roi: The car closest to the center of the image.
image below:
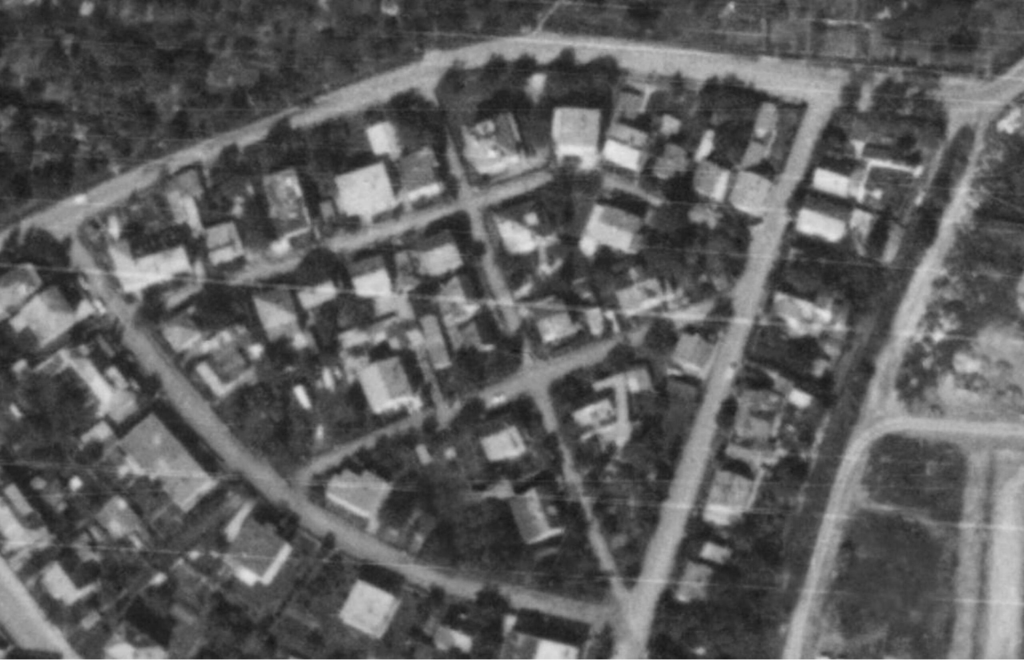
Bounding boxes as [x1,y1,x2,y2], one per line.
[491,393,509,405]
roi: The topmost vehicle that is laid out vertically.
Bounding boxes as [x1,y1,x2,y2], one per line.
[108,216,120,239]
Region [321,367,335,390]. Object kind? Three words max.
vehicle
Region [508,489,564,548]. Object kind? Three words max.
house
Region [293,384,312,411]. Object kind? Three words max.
vehicle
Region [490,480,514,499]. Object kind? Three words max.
shed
